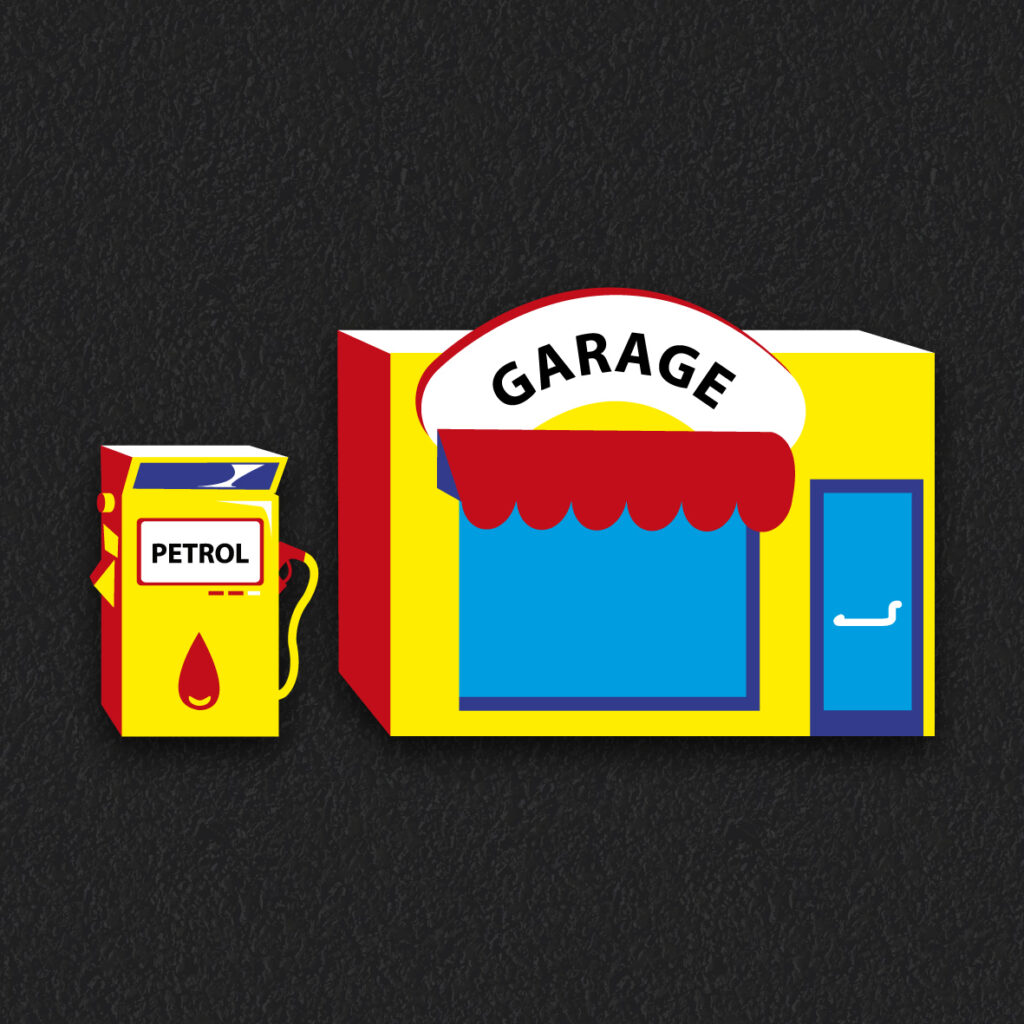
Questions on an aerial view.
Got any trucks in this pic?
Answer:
No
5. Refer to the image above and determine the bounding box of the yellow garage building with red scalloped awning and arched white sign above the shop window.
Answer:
[338,287,935,736]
